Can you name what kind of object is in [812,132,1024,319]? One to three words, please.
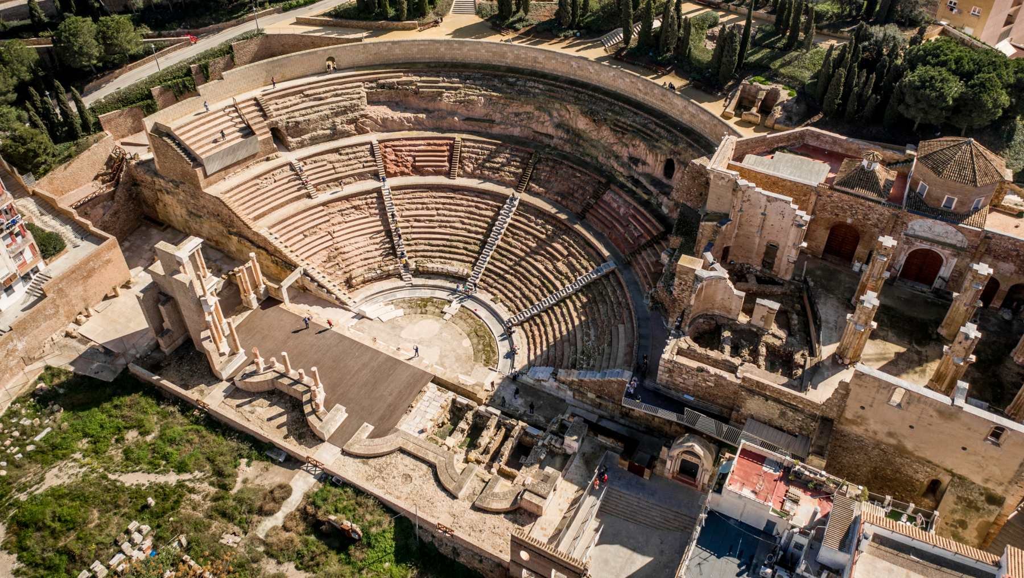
church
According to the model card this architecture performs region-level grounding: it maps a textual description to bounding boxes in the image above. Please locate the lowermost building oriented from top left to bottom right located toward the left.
[153,236,563,518]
